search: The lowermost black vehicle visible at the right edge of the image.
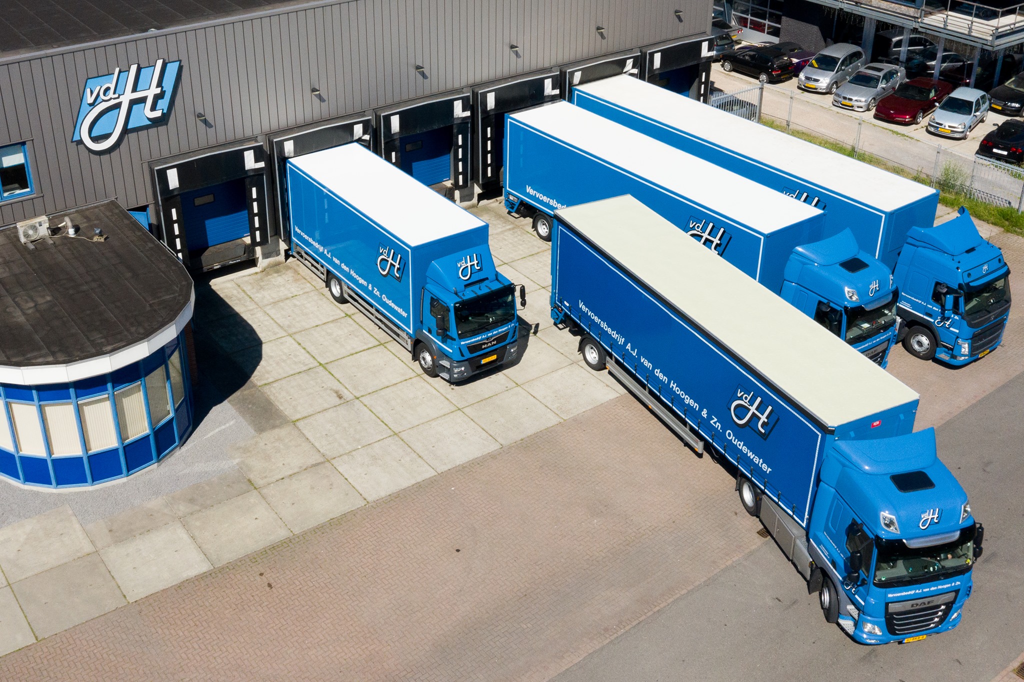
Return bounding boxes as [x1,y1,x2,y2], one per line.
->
[982,112,1024,163]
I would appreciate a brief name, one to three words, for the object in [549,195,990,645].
truck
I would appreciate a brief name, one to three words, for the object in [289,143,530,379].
truck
